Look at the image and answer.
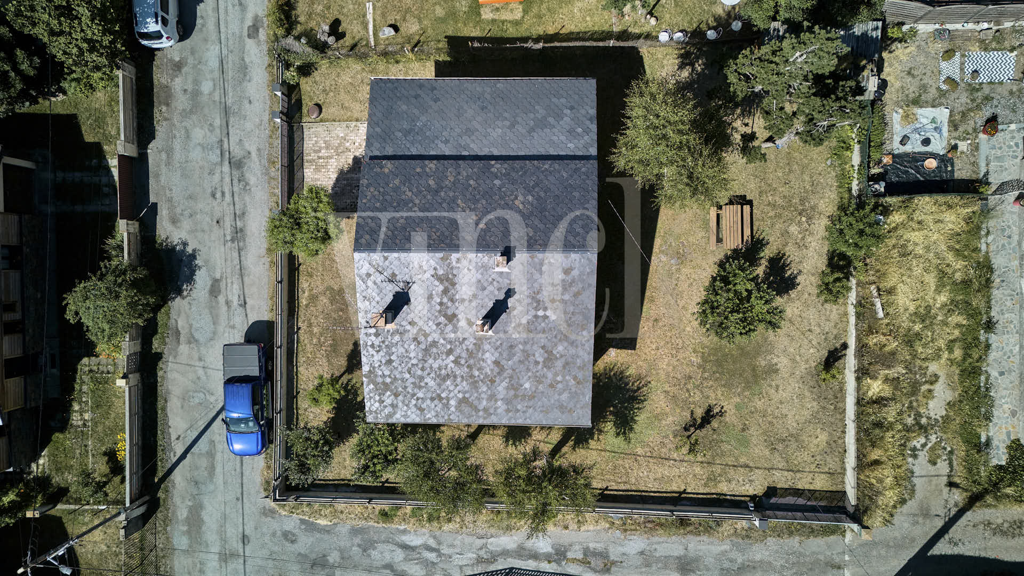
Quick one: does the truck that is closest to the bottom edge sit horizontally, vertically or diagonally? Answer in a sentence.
From this overhead view, the truck that is closest to the bottom edge appears to run vertically.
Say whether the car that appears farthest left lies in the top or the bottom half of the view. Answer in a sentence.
The top half of the photo is where the car that appears farthest left is.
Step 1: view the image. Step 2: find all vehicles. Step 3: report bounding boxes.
[127,0,181,53]
[219,341,273,456]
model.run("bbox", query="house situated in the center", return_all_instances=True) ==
[332,76,599,430]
